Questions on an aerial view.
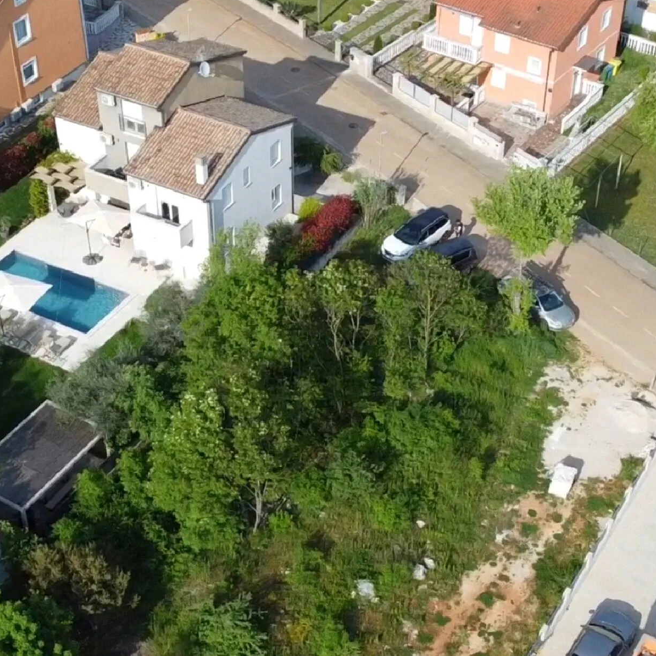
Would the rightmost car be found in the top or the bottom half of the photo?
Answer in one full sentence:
The rightmost car sits in the bottom half of the picture.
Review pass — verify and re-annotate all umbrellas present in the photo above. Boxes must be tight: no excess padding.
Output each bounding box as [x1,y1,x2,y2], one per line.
[0,268,55,313]
[67,199,131,263]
